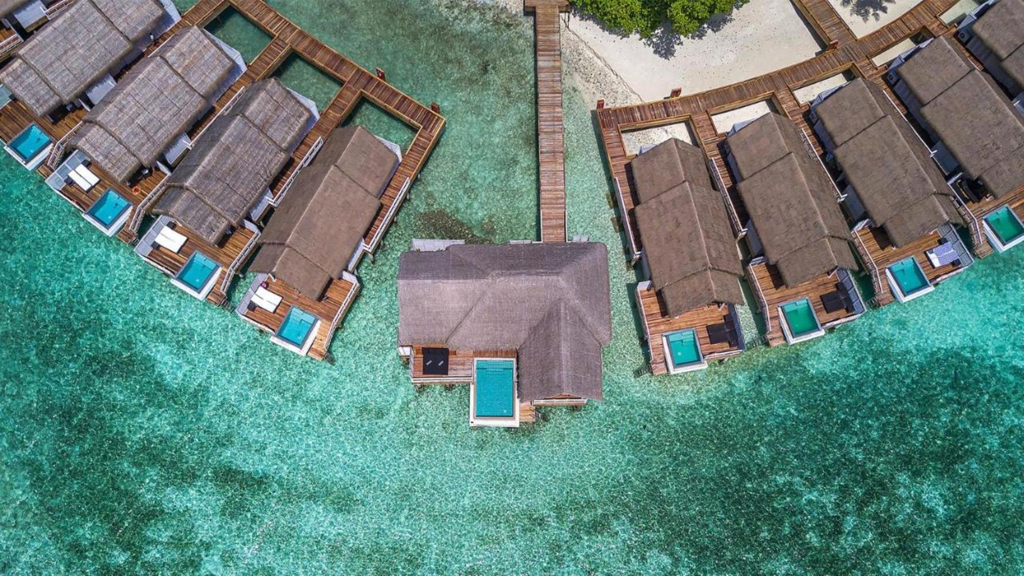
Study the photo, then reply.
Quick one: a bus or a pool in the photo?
pool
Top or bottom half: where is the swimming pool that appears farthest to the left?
top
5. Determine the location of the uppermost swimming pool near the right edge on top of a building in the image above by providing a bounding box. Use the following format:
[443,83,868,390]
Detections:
[978,205,1024,255]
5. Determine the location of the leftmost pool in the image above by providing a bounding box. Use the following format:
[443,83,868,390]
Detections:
[2,122,56,173]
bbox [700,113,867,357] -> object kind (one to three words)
house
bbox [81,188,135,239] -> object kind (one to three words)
swimming pool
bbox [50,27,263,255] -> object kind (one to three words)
house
